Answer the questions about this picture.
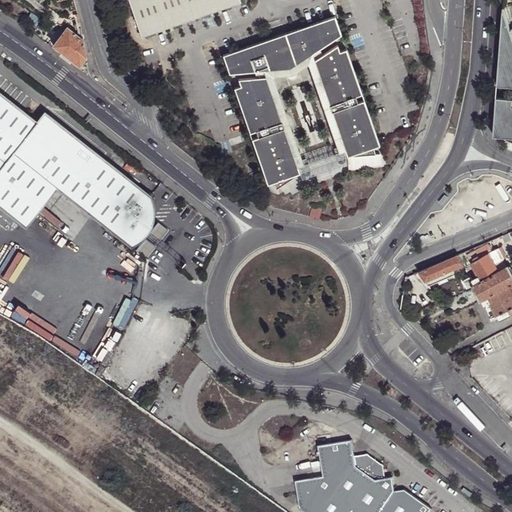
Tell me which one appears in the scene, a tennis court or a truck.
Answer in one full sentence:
Looking from above, you can make out a truck.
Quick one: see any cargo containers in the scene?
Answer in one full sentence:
Yes, there's a cargo container here.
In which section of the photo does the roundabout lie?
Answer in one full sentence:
The roundabout appears toward the center of the photo.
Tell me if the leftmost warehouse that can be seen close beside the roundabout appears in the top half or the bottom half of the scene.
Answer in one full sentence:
The leftmost warehouse that can be seen close beside the roundabout sits in the top half of the picture.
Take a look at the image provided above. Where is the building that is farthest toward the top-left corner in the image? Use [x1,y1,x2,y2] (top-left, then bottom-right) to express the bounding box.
[53,28,86,68]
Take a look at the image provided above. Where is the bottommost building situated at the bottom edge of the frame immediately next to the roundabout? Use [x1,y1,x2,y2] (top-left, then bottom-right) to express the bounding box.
[295,440,432,512]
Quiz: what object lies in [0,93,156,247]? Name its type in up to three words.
warehouse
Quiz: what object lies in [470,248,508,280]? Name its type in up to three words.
house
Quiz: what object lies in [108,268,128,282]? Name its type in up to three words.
work vehicle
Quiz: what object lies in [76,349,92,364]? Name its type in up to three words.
vehicle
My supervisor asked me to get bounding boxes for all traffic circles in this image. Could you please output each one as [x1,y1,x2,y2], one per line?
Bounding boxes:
[206,222,370,386]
